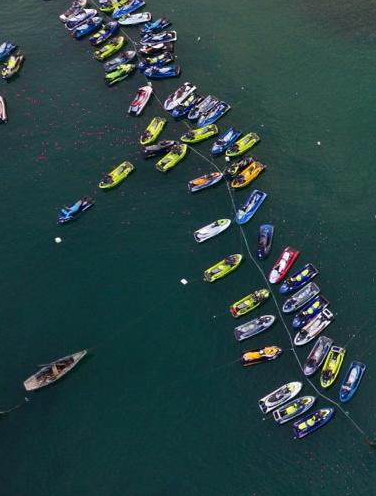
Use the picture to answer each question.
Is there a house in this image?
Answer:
No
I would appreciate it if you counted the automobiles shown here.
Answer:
none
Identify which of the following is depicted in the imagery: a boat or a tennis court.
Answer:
boat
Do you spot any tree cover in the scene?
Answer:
No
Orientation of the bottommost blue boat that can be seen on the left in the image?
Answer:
on a diagonal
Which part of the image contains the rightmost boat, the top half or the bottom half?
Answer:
bottom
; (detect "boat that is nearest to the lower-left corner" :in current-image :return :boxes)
[24,350,88,392]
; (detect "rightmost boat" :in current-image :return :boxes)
[341,360,368,403]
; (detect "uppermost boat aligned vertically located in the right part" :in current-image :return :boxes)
[256,224,272,262]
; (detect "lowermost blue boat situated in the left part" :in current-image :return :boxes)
[58,196,96,225]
